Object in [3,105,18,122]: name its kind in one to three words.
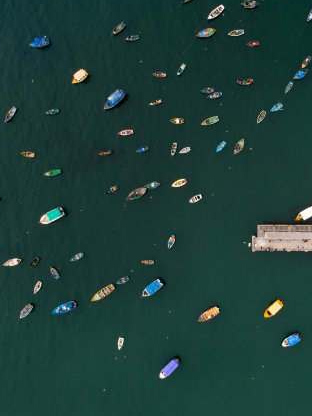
boat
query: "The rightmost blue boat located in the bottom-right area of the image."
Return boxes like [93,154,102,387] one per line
[282,334,302,348]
